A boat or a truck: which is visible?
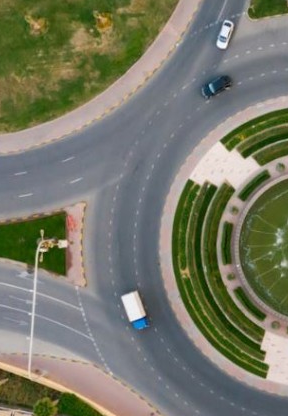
truck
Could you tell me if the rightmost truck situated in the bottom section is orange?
No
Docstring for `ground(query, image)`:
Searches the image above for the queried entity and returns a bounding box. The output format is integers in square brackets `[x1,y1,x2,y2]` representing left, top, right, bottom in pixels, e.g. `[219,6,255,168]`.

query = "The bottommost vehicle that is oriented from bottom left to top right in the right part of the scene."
[201,74,232,99]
